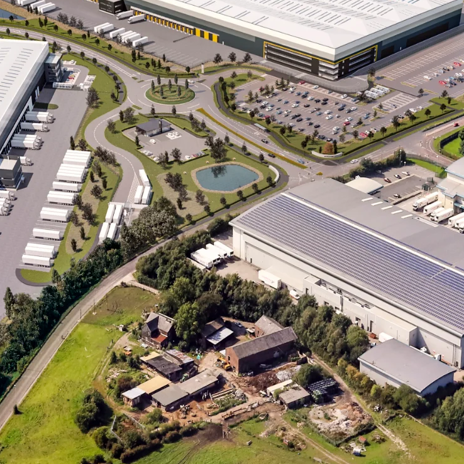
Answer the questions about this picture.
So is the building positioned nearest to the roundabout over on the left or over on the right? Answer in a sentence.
The building positioned nearest to the roundabout sits on the left side.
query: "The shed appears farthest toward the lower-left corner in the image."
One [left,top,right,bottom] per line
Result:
[121,386,146,407]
